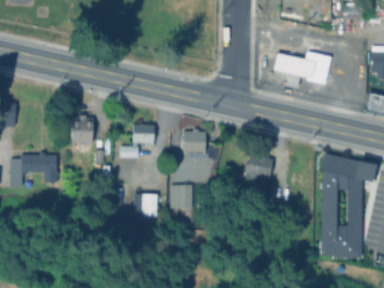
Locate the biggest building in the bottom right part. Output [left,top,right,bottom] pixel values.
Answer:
[322,162,364,258]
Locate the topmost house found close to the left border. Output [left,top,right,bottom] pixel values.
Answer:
[0,101,17,127]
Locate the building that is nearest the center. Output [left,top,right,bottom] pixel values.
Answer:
[182,128,207,154]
